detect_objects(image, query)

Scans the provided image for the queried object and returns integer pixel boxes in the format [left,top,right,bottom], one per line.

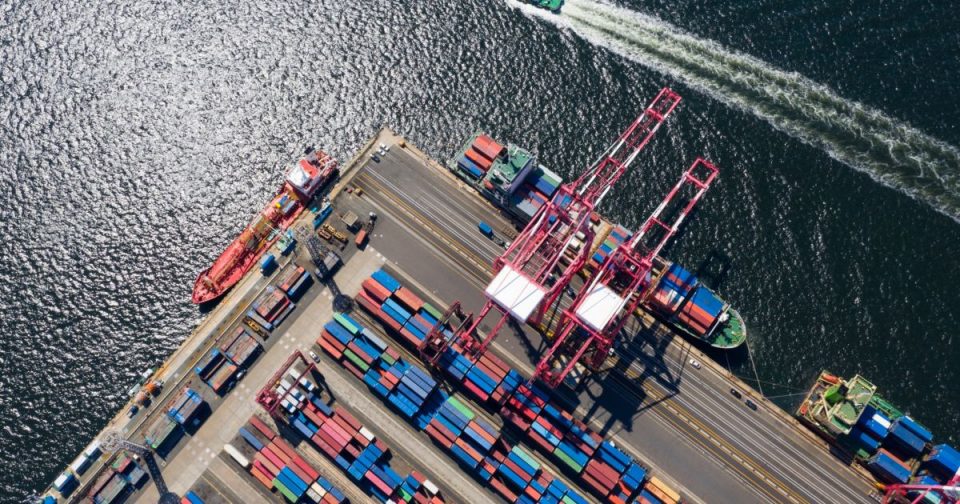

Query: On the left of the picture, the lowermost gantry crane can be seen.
[256,348,325,420]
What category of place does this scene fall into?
port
